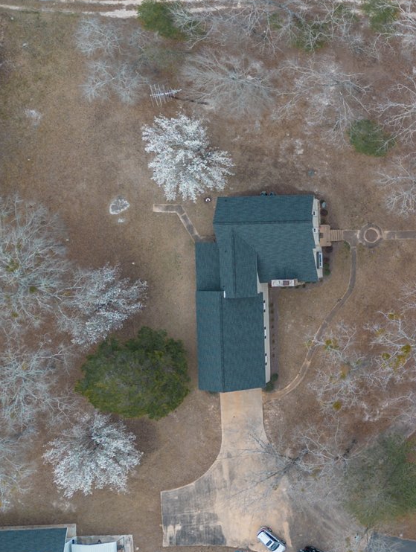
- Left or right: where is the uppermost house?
right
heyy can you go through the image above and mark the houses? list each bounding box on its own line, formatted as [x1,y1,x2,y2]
[196,195,349,393]
[0,526,73,552]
